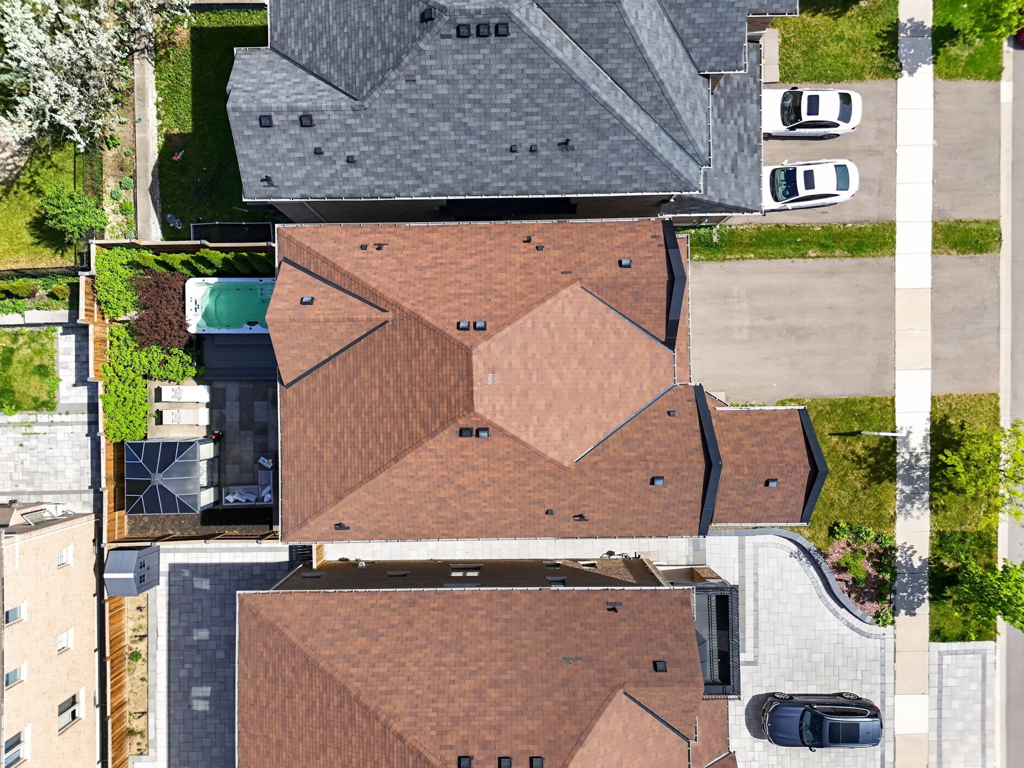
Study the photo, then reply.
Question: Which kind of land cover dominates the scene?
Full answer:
The largest share of the image is taken up by buildings.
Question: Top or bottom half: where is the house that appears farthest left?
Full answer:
You can find the house that appears farthest left in the bottom half.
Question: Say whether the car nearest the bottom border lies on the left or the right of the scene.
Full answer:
The car nearest the bottom border is on the right side of the image.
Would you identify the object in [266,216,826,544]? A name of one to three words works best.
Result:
house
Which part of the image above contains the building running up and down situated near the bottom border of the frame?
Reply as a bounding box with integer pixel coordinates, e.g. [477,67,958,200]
[0,504,107,768]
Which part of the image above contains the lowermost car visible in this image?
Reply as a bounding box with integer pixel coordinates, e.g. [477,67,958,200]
[761,692,884,758]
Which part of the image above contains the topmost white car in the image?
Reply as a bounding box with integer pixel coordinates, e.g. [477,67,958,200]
[765,83,862,141]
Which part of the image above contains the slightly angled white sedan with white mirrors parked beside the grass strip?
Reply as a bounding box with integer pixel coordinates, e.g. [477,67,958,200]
[766,157,860,213]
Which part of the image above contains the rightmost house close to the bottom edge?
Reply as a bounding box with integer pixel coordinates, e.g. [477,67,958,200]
[235,553,740,768]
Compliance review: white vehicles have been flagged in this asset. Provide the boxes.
[766,157,860,213]
[765,83,862,141]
